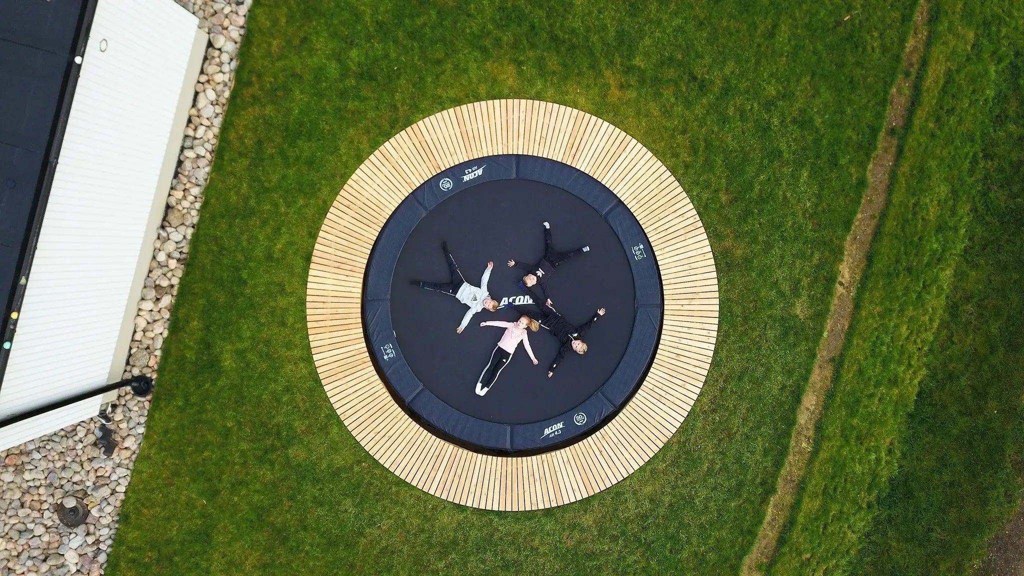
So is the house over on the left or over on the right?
left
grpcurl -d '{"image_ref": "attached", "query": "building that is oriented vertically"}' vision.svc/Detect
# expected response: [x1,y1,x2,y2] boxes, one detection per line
[0,0,207,450]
